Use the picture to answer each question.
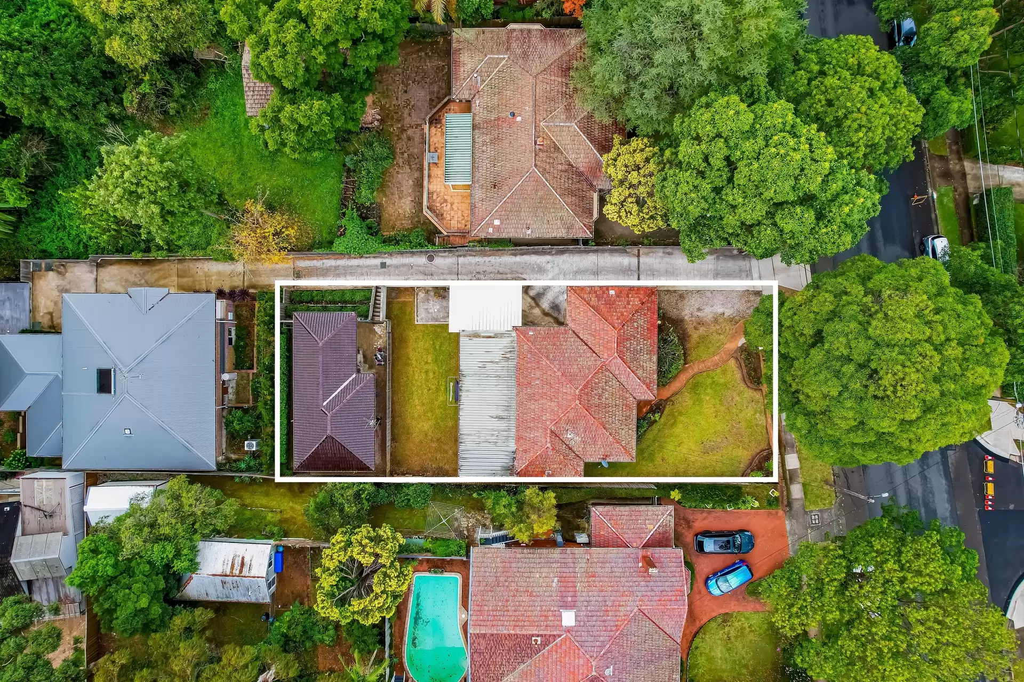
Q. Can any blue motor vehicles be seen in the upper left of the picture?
No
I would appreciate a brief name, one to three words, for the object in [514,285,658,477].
house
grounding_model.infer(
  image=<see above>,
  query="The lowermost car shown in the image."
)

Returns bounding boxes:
[700,556,756,595]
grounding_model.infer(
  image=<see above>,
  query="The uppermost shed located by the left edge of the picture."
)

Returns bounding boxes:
[0,282,49,331]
